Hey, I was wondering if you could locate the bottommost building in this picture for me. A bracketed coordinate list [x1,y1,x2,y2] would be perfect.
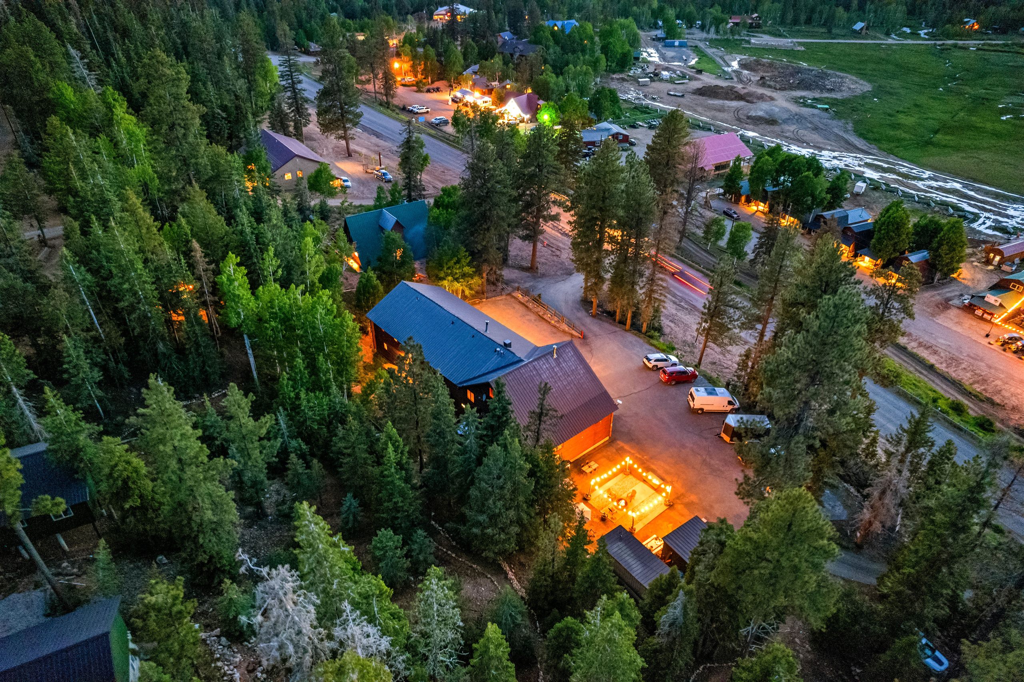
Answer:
[0,595,146,682]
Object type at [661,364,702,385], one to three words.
car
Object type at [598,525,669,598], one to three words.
shed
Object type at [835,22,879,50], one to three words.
building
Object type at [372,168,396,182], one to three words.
vehicle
